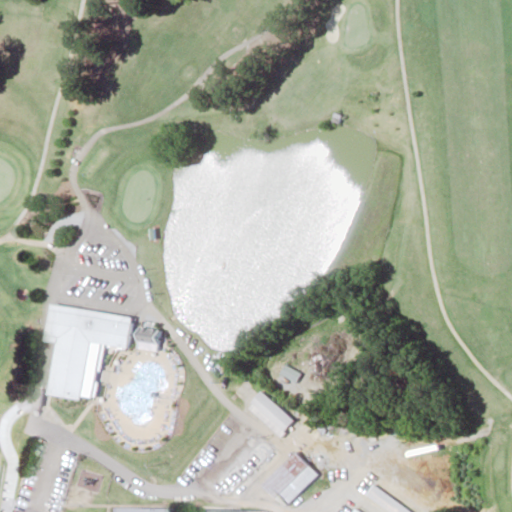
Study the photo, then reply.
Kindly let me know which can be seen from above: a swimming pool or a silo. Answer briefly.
swimming pool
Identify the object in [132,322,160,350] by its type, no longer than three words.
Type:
building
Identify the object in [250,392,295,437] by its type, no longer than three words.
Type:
barn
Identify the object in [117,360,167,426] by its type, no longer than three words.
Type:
swimming pool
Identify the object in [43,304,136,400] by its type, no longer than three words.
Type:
building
